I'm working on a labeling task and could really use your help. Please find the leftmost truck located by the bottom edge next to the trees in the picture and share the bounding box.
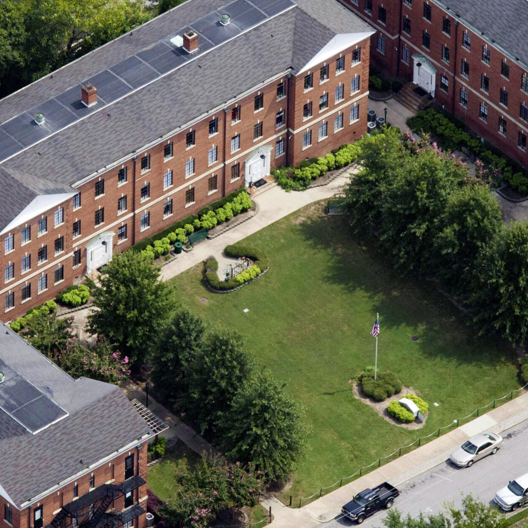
[339,483,404,528]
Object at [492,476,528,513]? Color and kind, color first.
white truck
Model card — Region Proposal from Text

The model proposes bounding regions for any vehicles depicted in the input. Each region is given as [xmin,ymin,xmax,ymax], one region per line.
[492,476,528,513]
[339,483,404,528]
[448,432,505,471]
